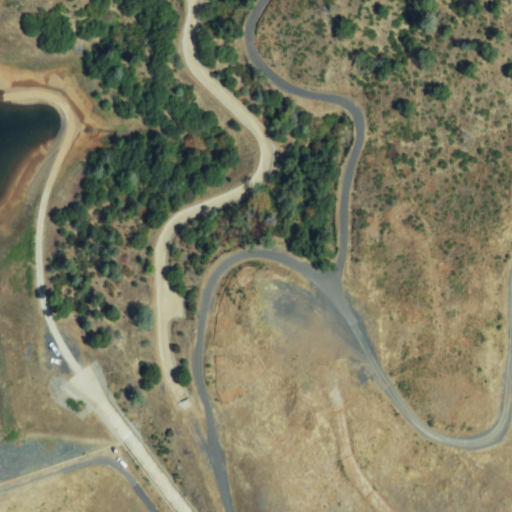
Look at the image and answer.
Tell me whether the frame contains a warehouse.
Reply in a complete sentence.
No, there's no warehouse here.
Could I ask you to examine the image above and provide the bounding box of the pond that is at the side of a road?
[0,105,60,194]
